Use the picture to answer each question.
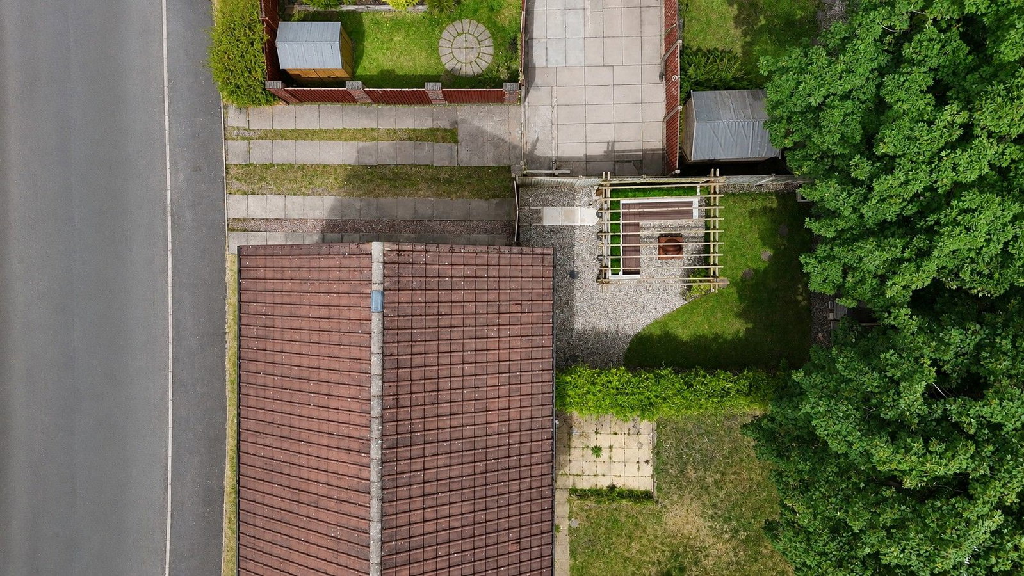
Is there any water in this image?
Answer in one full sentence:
No, the picture contains no water.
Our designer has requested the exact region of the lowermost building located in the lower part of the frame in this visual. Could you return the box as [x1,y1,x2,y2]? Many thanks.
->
[235,241,557,576]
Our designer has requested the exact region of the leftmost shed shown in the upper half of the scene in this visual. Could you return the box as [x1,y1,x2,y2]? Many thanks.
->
[275,22,351,80]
